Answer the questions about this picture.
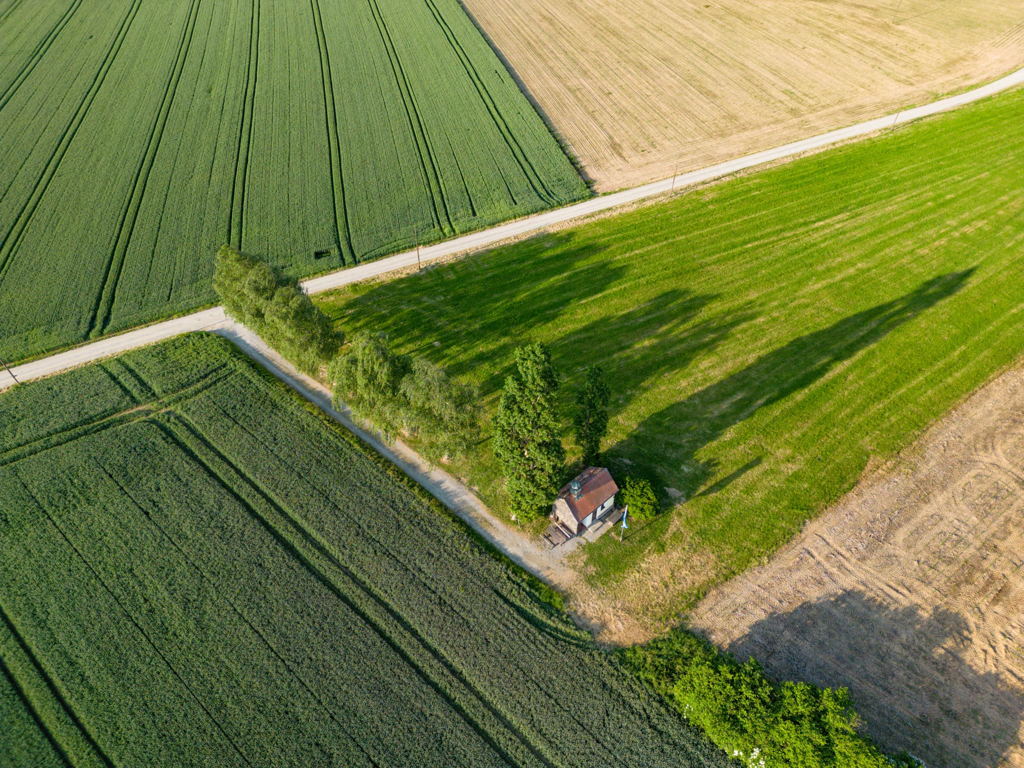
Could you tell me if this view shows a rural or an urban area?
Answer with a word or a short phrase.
rural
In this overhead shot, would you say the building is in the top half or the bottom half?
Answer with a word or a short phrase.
bottom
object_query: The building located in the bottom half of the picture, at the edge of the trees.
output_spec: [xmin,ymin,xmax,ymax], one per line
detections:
[551,468,619,536]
